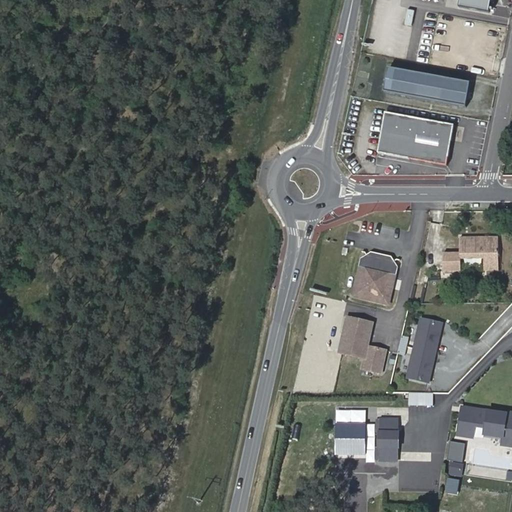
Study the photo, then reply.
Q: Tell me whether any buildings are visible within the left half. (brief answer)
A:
No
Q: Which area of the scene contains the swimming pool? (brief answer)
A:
bottom right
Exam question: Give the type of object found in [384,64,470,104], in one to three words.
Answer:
building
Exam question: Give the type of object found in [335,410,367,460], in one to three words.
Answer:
building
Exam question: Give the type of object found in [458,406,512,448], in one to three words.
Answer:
house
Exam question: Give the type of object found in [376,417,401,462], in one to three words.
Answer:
house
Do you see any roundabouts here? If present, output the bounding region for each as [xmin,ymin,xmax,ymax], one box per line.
[258,118,361,247]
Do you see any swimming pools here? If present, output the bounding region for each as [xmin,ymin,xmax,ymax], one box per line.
[473,448,512,470]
